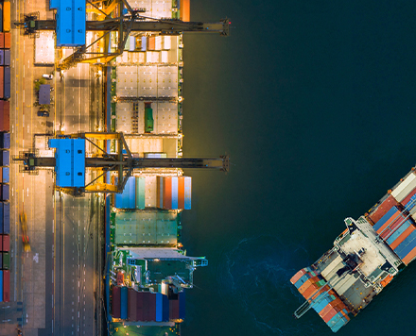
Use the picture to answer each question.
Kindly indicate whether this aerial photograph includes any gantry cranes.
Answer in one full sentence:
Yes, the frame does contain a gantry crane.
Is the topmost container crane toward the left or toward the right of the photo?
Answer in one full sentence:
The topmost container crane sits on the left side.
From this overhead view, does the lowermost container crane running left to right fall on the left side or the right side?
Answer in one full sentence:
The lowermost container crane running left to right sits on the left side.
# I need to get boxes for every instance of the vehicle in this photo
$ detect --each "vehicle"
[42,74,53,80]
[38,112,49,117]
[20,214,32,253]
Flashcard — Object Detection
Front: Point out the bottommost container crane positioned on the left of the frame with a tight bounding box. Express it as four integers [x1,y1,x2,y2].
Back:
[14,125,230,202]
